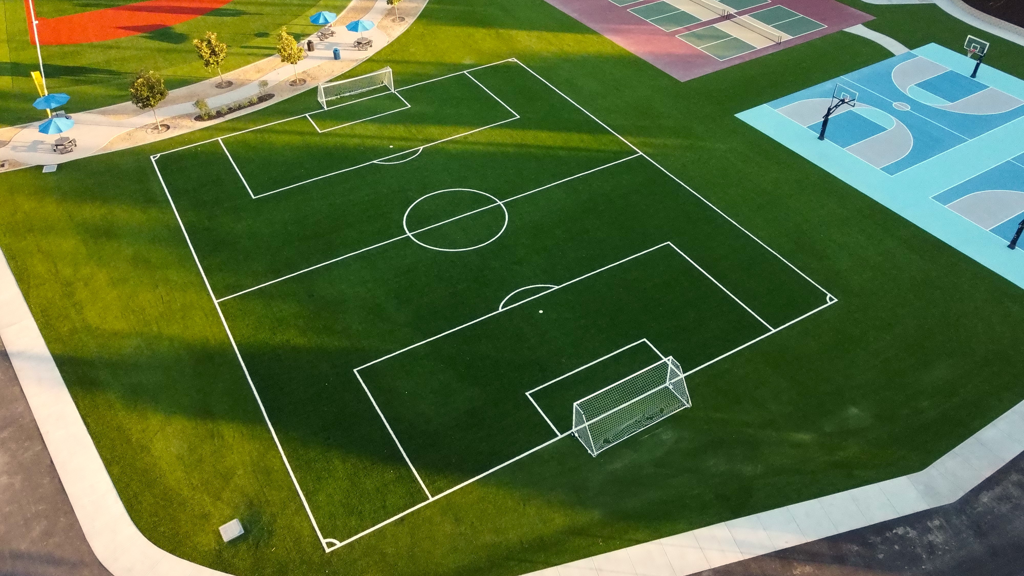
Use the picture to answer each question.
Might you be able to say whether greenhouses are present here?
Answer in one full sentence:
No, I can see no greenhouse in this picture.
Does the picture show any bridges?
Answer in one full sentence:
No, this view has no bridge in it.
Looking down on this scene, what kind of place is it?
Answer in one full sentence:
This image shows a sports ground.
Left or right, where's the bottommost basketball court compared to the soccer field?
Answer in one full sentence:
To the right of the soccer field is where the bottommost basketball court appears.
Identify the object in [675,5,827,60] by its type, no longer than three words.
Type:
sports court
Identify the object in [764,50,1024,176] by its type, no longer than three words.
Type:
basketball court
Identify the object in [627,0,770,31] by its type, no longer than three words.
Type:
sports court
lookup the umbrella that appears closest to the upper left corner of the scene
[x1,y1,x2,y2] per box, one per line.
[31,91,68,117]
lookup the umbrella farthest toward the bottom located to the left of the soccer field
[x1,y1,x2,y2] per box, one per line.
[35,117,73,139]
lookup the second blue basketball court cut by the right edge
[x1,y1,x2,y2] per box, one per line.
[927,150,1024,252]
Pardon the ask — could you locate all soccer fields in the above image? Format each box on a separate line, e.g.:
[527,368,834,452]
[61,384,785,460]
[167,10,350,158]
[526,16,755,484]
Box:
[153,59,835,550]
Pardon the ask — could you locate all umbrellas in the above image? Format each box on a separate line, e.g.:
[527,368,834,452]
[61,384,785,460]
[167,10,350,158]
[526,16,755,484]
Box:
[307,11,335,27]
[31,91,68,117]
[347,18,375,36]
[35,117,73,139]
